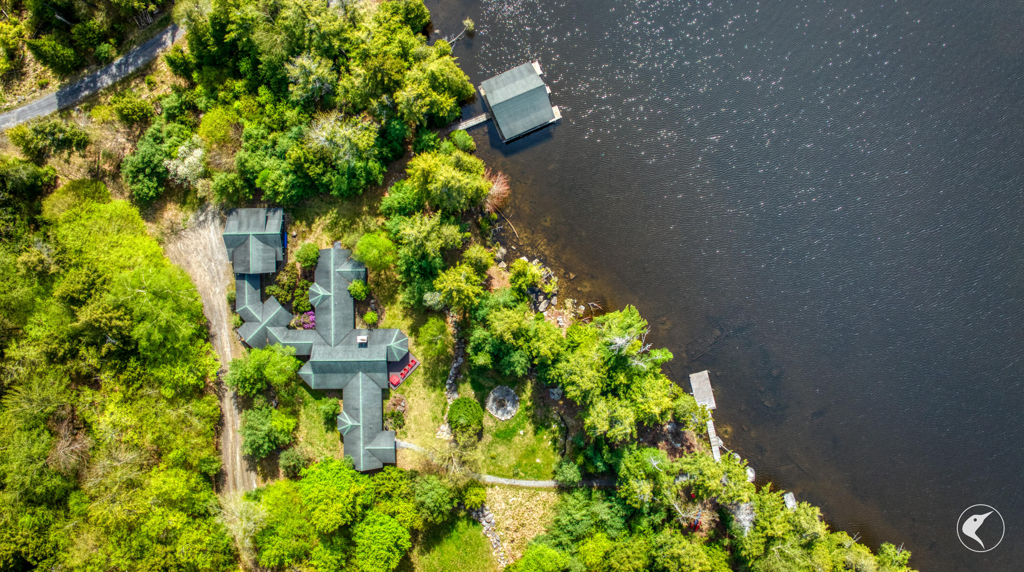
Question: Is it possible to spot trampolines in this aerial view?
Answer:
No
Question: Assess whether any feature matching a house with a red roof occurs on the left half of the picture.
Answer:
No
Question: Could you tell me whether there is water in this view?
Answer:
Yes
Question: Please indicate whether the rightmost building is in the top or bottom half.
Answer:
top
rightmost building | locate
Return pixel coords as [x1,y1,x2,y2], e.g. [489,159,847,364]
[478,60,562,144]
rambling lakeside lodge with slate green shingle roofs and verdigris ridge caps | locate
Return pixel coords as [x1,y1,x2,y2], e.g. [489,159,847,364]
[236,248,421,471]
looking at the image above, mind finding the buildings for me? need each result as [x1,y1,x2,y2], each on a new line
[236,248,421,471]
[478,60,562,144]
